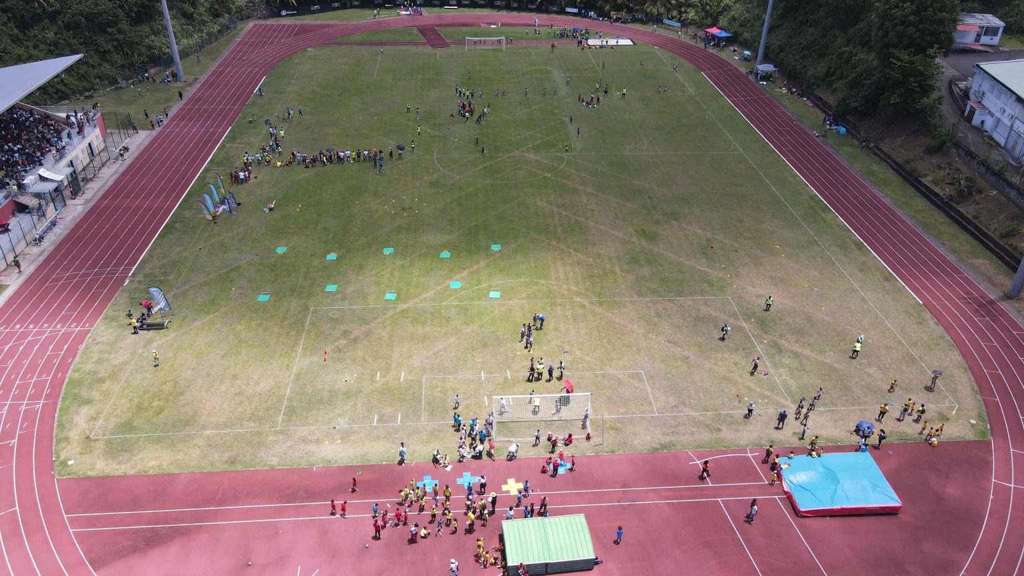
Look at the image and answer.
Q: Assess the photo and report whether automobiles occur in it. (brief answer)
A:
No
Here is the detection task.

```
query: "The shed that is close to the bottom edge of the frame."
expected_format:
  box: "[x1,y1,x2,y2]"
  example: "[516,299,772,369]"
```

[501,512,597,576]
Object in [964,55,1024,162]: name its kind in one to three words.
building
